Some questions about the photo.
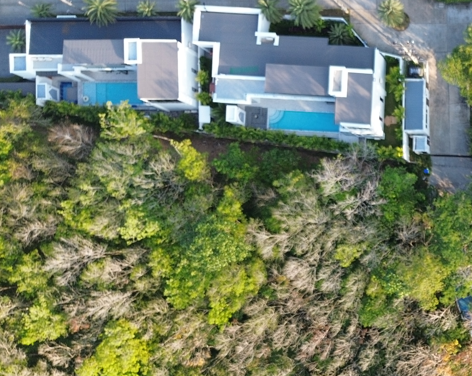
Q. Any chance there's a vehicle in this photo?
No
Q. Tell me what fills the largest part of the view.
trees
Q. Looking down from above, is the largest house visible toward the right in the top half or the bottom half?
top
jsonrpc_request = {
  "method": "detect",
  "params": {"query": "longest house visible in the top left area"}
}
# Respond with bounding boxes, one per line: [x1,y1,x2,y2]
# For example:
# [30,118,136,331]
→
[9,15,198,113]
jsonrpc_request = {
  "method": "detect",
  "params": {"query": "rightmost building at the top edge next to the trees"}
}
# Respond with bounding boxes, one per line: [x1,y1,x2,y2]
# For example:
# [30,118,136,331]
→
[194,6,387,142]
